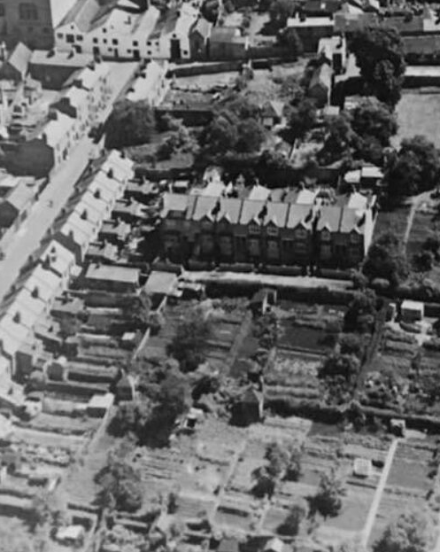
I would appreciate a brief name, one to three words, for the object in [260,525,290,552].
shed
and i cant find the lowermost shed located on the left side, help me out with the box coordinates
[54,509,90,547]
